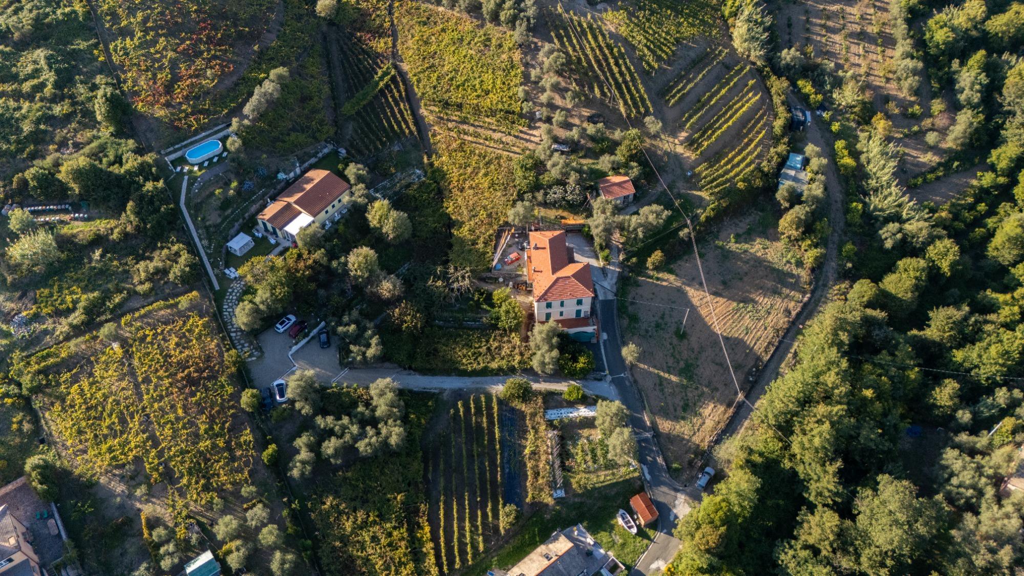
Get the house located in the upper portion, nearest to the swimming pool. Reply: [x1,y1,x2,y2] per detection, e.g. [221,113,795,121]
[246,171,351,255]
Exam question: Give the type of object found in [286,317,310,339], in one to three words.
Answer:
car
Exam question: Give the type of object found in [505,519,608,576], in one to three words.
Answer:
house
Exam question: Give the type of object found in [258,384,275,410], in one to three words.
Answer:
car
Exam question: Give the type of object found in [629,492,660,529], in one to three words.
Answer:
shed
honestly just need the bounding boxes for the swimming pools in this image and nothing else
[187,142,224,163]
